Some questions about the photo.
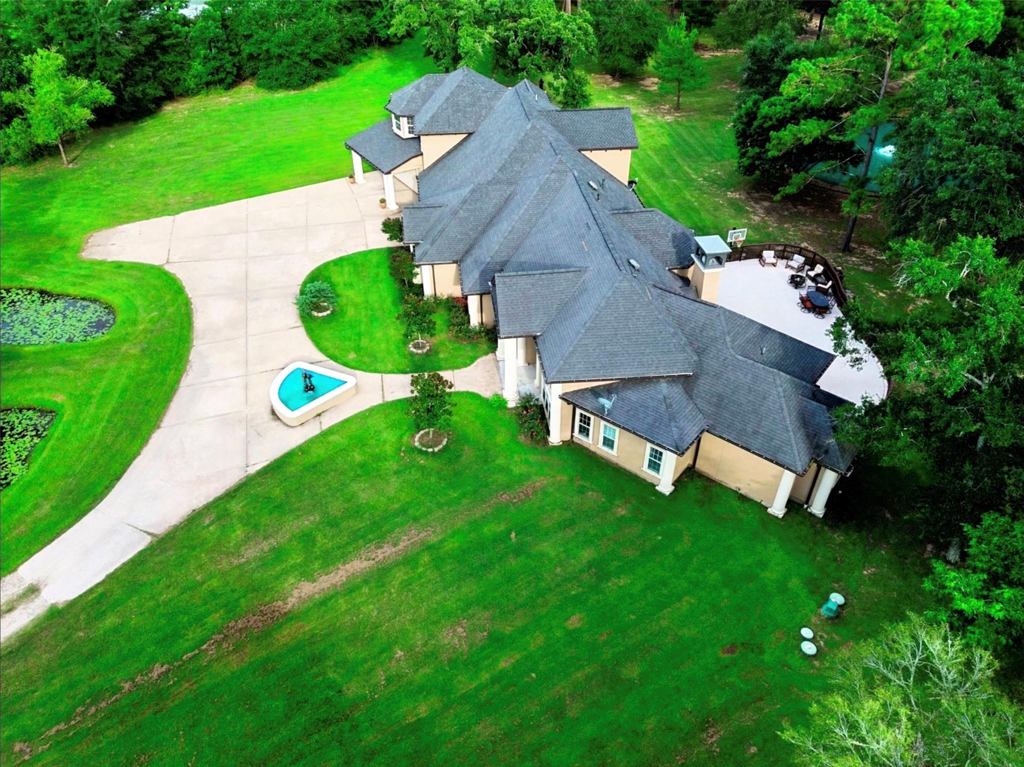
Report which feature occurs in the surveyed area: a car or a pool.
pool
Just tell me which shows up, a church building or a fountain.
fountain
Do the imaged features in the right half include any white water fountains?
No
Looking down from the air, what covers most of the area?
grass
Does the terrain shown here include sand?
No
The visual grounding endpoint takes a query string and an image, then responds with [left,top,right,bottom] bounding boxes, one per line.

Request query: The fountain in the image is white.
[269,362,358,424]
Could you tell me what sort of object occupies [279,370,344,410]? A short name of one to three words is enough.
swimming pool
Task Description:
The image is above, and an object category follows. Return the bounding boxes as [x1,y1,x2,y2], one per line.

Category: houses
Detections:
[343,70,884,519]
